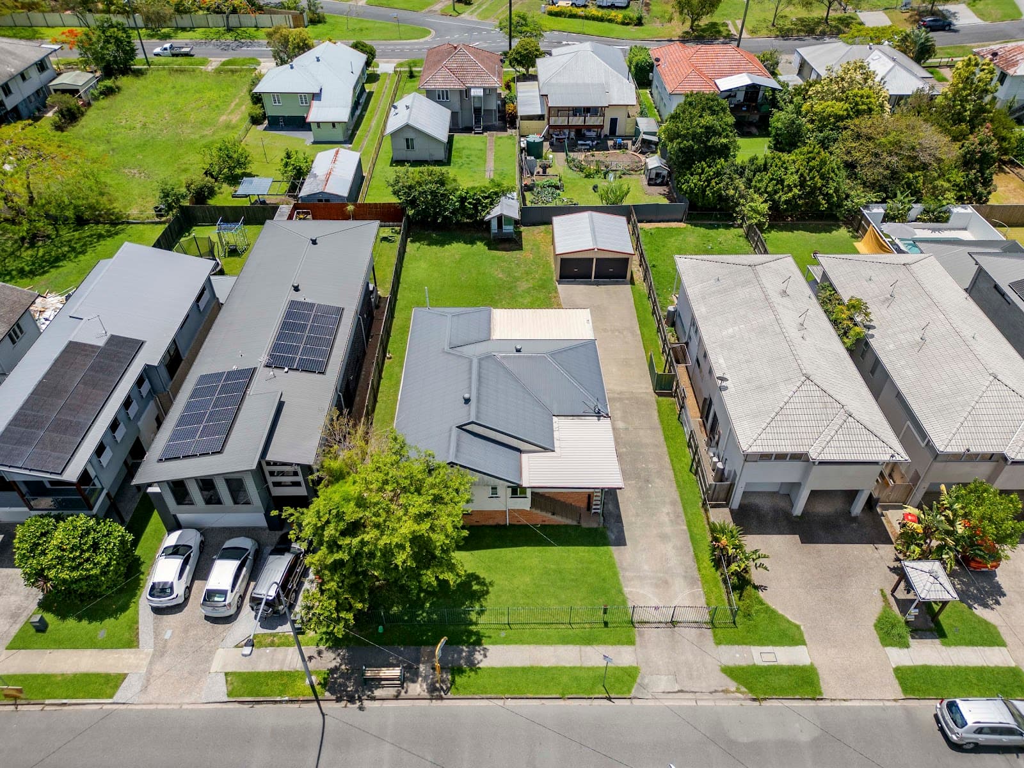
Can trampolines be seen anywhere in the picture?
Yes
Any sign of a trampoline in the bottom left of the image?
No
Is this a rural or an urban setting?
urban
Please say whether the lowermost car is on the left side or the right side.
right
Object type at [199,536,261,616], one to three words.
car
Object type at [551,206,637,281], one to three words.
building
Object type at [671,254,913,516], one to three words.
house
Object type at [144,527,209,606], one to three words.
car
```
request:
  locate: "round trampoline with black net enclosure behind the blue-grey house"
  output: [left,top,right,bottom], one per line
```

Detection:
[167,227,222,262]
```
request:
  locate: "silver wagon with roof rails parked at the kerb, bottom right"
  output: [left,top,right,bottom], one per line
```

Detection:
[933,690,1024,749]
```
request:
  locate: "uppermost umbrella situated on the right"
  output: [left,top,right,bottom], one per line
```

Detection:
[877,222,916,244]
